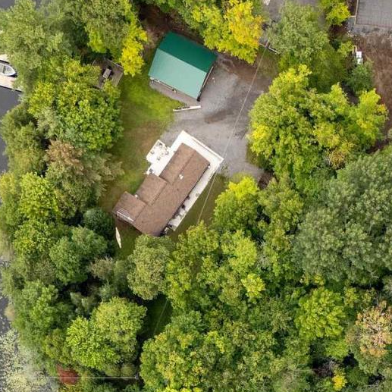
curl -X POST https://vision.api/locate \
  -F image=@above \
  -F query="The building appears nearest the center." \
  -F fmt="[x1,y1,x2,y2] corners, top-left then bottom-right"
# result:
[115,143,212,242]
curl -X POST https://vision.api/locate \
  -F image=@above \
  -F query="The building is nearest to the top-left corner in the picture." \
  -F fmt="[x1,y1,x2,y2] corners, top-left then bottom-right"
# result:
[148,32,219,104]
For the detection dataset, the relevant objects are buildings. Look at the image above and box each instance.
[115,143,212,242]
[148,32,219,104]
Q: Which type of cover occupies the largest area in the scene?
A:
trees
